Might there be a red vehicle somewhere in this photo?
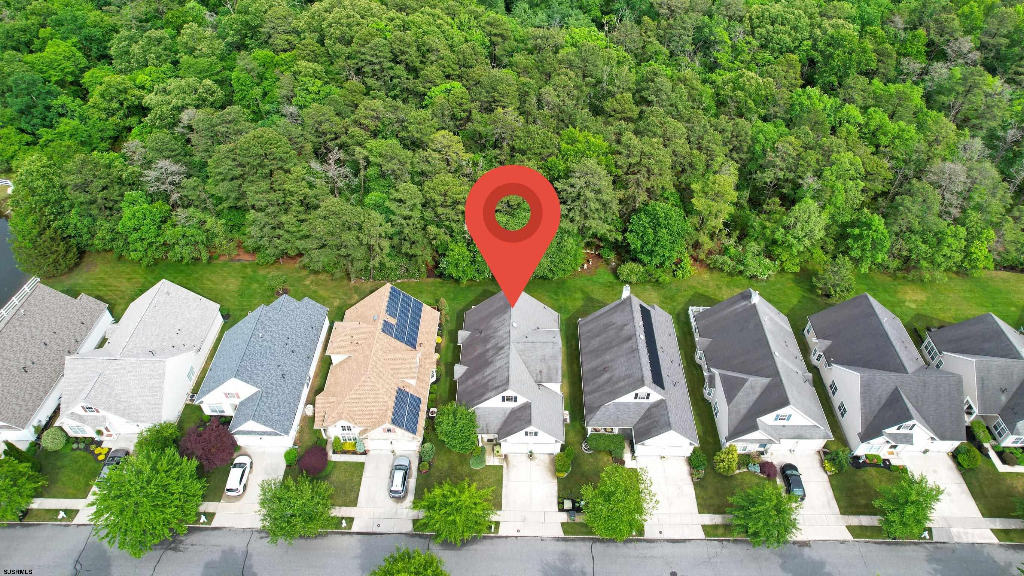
No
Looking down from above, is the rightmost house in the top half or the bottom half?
bottom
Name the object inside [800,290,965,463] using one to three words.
house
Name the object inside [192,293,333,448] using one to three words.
house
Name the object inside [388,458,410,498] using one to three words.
car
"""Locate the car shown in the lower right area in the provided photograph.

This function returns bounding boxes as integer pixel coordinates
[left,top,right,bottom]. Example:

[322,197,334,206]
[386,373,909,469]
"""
[778,463,809,504]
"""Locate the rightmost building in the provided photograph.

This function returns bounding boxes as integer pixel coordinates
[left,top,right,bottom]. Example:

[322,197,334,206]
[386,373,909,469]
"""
[923,312,1024,448]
